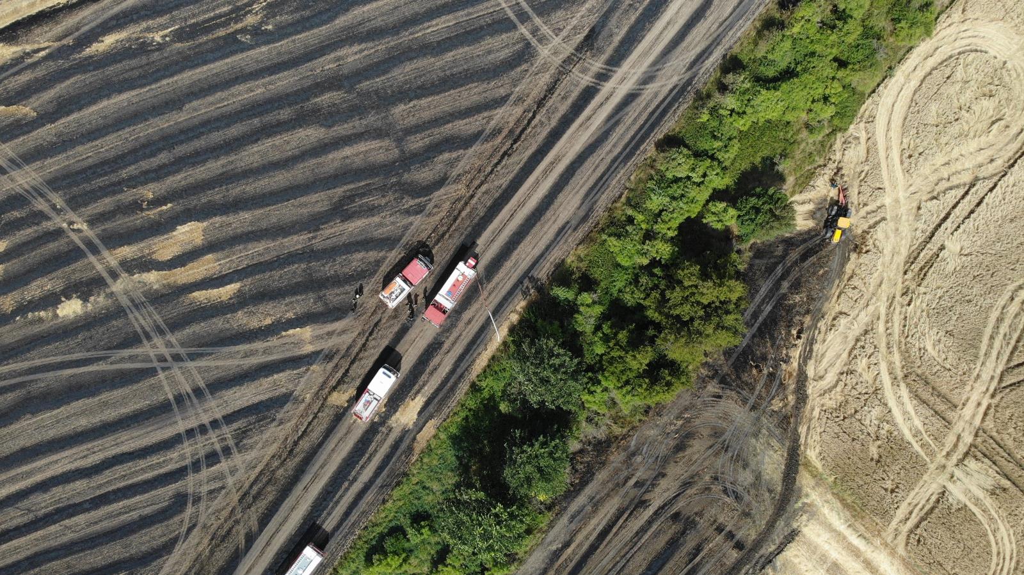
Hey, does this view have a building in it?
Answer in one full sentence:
No, this view has no building in it.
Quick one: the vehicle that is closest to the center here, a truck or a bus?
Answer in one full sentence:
From above, the vehicle that is closest to the center can be identified as a truck.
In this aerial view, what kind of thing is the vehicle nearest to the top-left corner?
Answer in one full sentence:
The vehicle nearest to the top-left corner can be classified as a truck.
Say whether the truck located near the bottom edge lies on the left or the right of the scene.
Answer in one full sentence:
The truck located near the bottom edge is on the left side of the image.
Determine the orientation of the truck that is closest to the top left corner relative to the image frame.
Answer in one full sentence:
I'd say the truck that is closest to the top left corner is aligned diagonally in the picture.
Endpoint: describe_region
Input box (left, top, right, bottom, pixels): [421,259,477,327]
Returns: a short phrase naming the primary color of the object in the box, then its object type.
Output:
white truck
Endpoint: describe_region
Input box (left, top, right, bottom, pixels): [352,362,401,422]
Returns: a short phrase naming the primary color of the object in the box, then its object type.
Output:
white truck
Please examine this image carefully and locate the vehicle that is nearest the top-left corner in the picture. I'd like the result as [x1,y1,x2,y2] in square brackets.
[380,257,432,308]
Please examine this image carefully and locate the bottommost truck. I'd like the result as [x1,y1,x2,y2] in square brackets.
[286,541,326,575]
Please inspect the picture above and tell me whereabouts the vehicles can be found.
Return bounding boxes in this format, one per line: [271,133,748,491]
[824,204,852,240]
[352,362,401,422]
[380,257,432,308]
[421,259,477,327]
[286,541,326,575]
